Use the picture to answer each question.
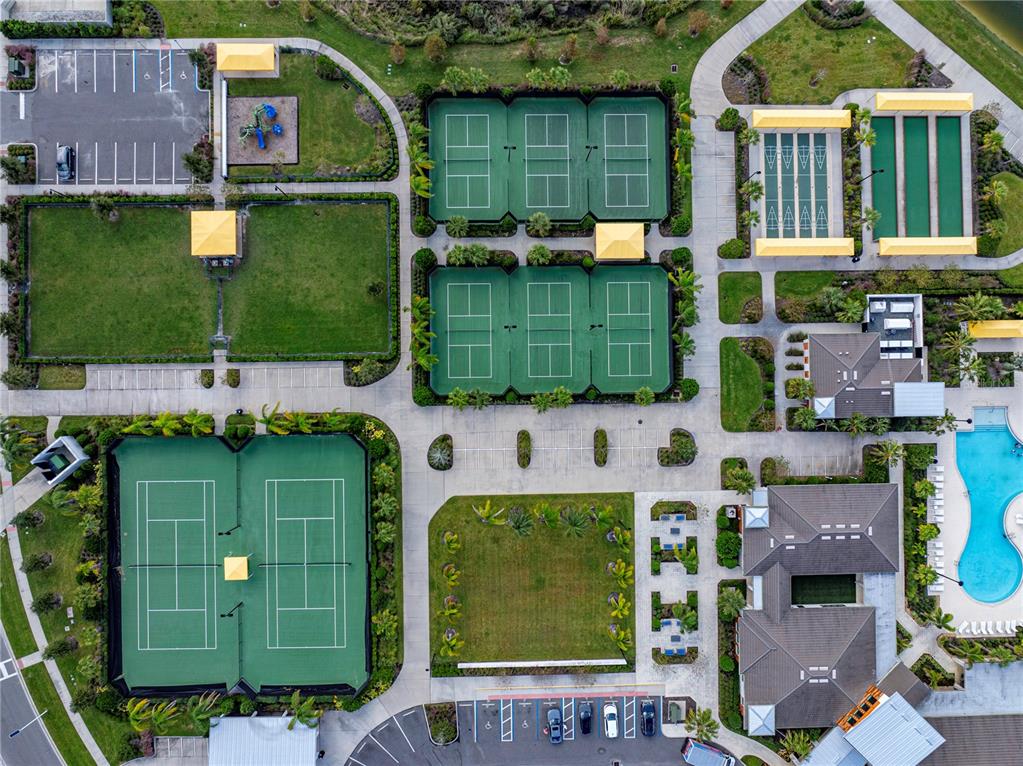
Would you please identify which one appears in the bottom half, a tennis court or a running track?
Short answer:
tennis court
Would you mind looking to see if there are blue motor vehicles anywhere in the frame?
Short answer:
Yes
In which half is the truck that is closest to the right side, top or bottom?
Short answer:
bottom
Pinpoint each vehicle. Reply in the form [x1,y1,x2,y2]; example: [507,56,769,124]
[639,697,656,735]
[674,728,733,766]
[540,705,567,741]
[603,700,619,736]
[577,700,593,733]
[55,143,74,178]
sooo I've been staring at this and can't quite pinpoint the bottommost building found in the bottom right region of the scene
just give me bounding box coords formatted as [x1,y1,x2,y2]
[733,483,1023,766]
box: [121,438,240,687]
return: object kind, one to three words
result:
tennis court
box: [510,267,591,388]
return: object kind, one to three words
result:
sports court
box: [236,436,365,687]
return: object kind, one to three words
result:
tennis court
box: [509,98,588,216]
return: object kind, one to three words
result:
sports court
